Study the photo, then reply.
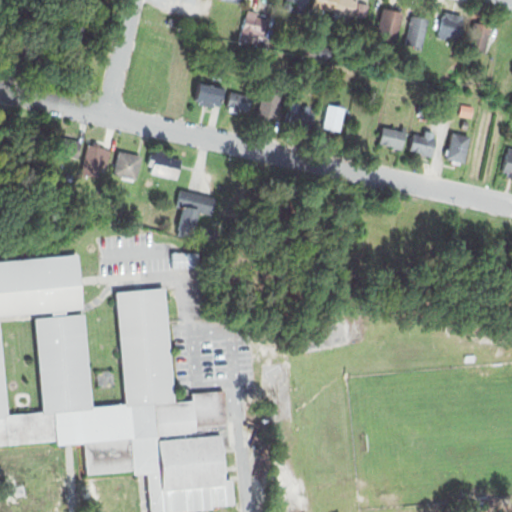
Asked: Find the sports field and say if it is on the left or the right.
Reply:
right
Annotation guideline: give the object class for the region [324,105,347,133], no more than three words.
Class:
building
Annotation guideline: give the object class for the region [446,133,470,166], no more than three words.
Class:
house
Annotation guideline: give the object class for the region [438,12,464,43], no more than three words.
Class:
house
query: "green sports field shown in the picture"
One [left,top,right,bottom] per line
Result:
[349,366,512,492]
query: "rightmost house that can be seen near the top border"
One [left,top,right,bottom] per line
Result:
[470,24,492,54]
